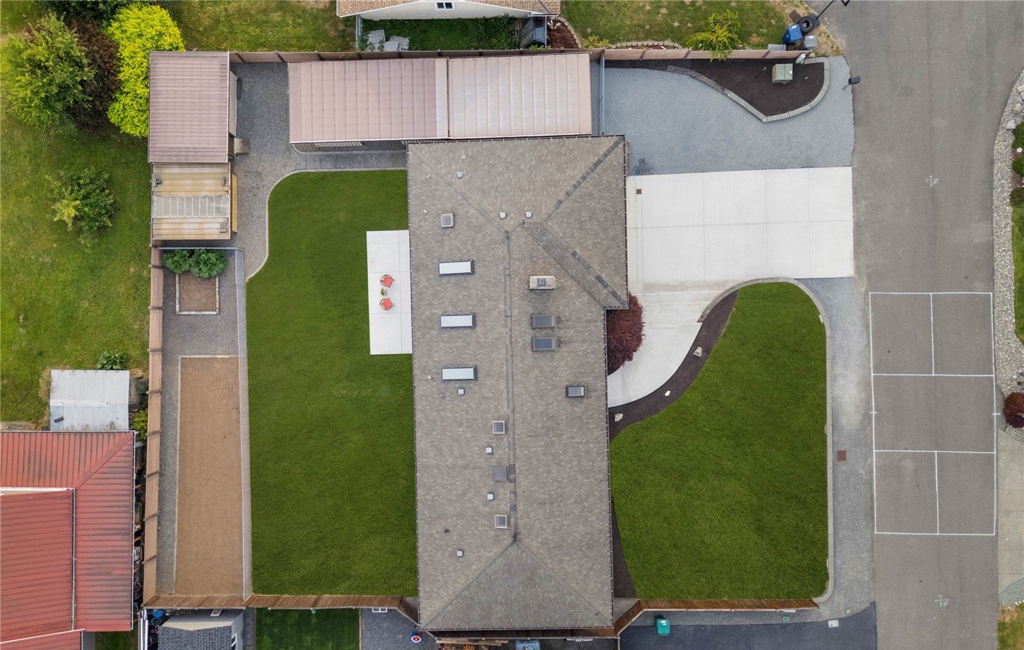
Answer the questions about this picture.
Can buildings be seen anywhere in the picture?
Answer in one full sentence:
Yes, the frame does contain a building.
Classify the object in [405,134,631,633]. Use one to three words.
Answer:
house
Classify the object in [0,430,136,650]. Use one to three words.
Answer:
house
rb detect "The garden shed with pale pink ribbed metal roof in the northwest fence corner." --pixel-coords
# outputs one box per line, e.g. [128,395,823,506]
[148,52,237,162]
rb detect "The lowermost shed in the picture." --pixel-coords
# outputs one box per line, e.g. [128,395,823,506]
[160,612,246,650]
